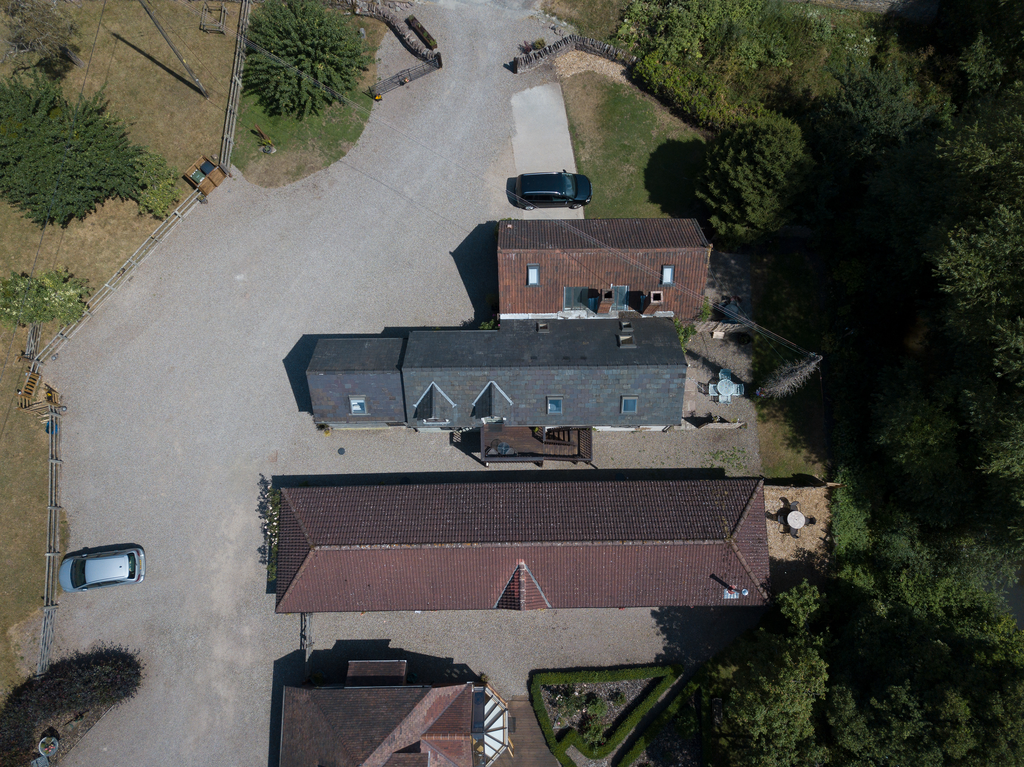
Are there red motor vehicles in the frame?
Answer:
No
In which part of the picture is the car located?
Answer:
bottom left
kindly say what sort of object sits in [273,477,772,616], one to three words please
house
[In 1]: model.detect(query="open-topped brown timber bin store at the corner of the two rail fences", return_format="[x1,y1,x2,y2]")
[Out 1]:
[184,155,227,197]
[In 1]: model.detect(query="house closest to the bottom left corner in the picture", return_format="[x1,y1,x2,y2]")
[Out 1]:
[279,658,478,767]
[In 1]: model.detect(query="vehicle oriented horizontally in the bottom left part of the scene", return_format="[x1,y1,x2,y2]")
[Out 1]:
[59,547,149,596]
